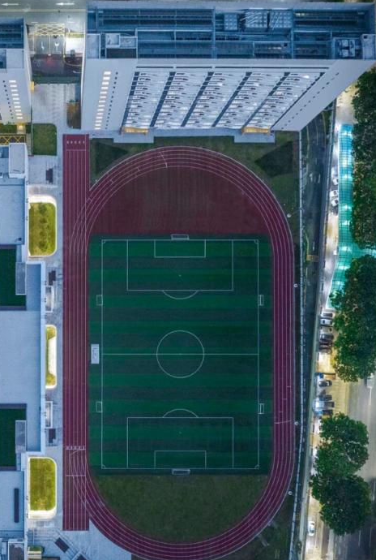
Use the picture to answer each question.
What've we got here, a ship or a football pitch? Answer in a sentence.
The image shows a football pitch.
